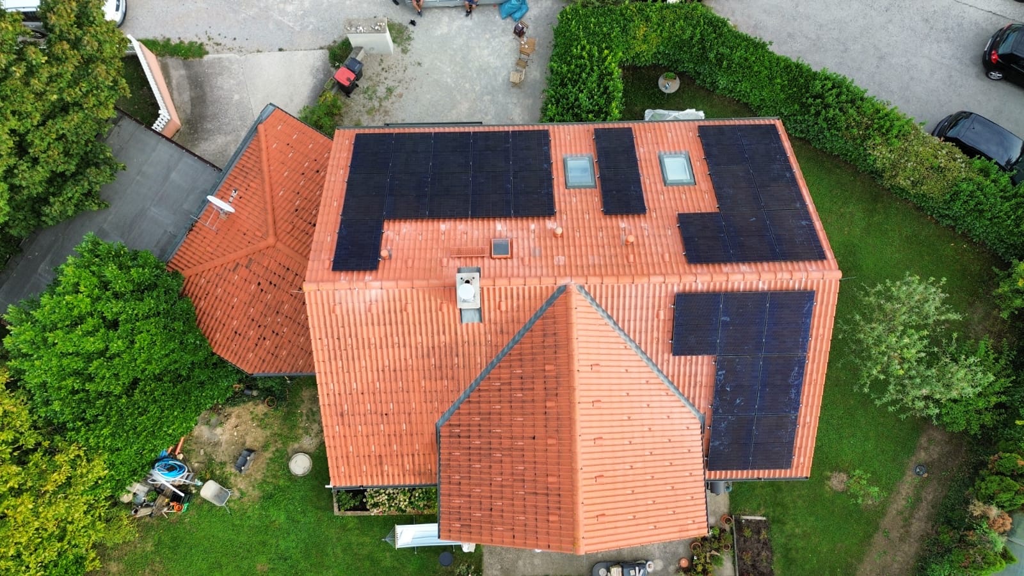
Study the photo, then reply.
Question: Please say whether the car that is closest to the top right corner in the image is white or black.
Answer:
black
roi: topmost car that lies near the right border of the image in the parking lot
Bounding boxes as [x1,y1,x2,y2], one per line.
[980,22,1024,83]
